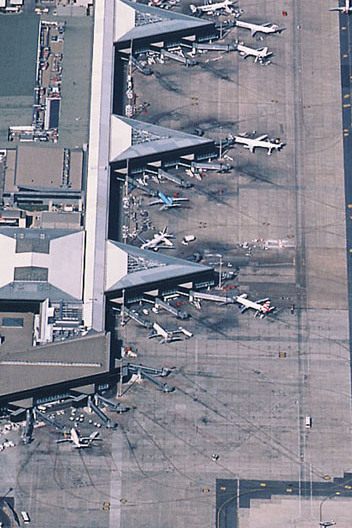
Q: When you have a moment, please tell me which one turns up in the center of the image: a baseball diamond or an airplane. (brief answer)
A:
airplane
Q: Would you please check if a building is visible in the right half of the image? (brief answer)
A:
No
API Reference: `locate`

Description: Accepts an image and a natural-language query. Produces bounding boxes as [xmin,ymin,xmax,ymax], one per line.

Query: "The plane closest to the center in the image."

[144,228,176,248]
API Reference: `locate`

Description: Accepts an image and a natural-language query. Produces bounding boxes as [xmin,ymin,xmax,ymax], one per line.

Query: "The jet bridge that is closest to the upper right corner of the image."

[212,21,237,34]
